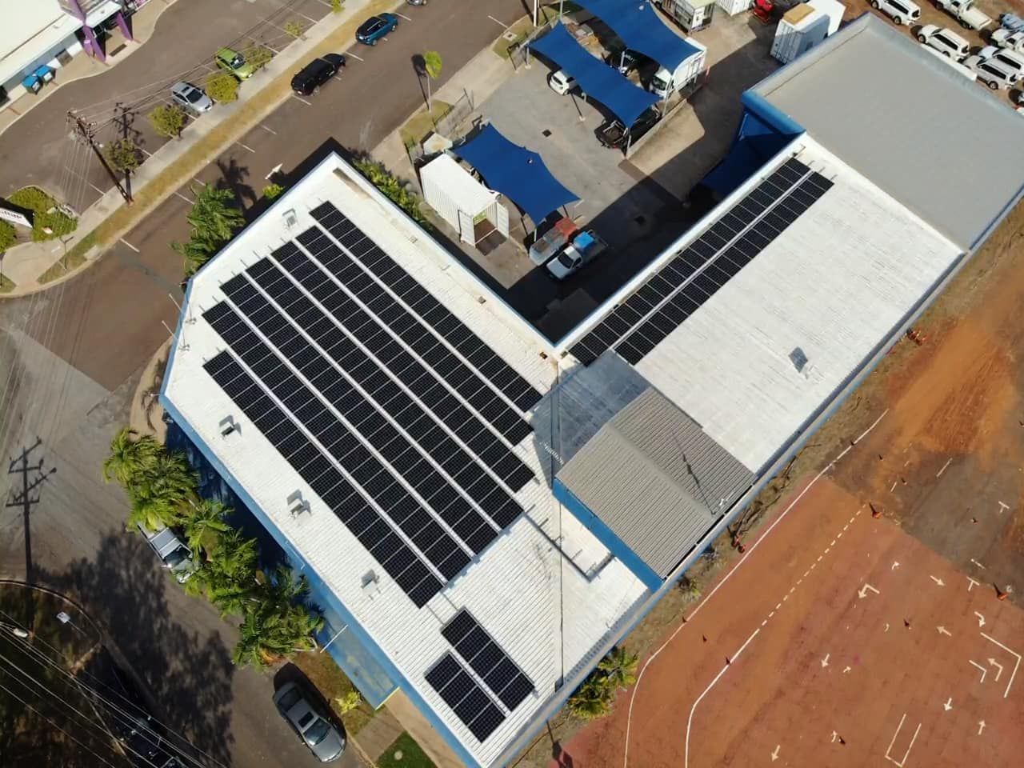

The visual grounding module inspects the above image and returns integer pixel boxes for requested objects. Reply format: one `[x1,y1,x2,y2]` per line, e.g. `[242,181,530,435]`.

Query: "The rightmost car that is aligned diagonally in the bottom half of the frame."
[273,679,344,760]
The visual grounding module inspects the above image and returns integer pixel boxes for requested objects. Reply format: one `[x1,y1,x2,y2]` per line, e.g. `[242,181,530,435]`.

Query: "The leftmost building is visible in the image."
[0,0,140,104]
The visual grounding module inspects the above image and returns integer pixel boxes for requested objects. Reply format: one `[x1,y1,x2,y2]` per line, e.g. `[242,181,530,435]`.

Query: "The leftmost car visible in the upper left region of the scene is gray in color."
[166,77,216,117]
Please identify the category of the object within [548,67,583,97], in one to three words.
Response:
car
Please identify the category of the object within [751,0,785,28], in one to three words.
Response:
work vehicle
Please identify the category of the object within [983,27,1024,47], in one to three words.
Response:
vehicle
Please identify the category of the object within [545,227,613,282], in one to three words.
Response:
truck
